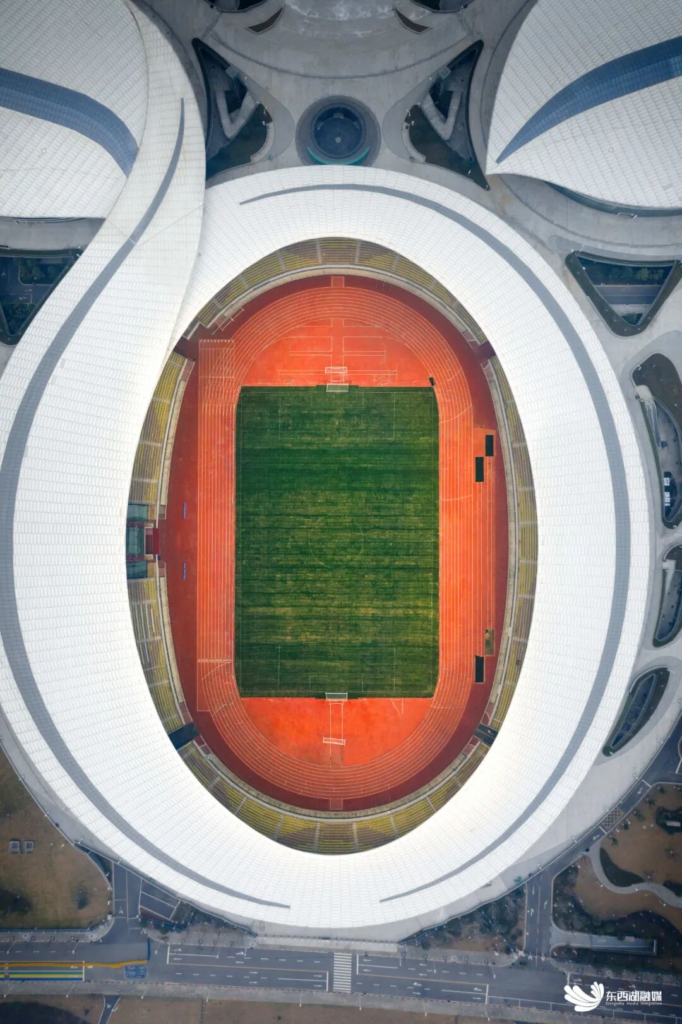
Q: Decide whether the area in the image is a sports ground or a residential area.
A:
sports ground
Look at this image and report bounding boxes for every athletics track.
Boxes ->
[128,267,517,817]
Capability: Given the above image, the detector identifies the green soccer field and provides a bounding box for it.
[236,384,439,699]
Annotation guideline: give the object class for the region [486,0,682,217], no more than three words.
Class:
building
